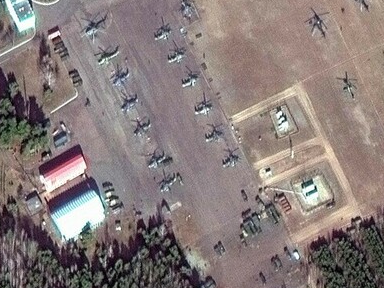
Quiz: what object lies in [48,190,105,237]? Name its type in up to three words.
hangar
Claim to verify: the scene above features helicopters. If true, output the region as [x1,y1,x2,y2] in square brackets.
[97,51,120,68]
[119,98,140,116]
[82,21,107,42]
[156,180,178,196]
[181,73,203,89]
[205,127,227,145]
[221,153,242,170]
[154,25,176,43]
[168,50,188,66]
[178,2,197,20]
[131,123,153,140]
[147,154,167,172]
[339,78,357,97]
[110,73,132,90]
[193,100,216,117]
[306,13,329,35]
